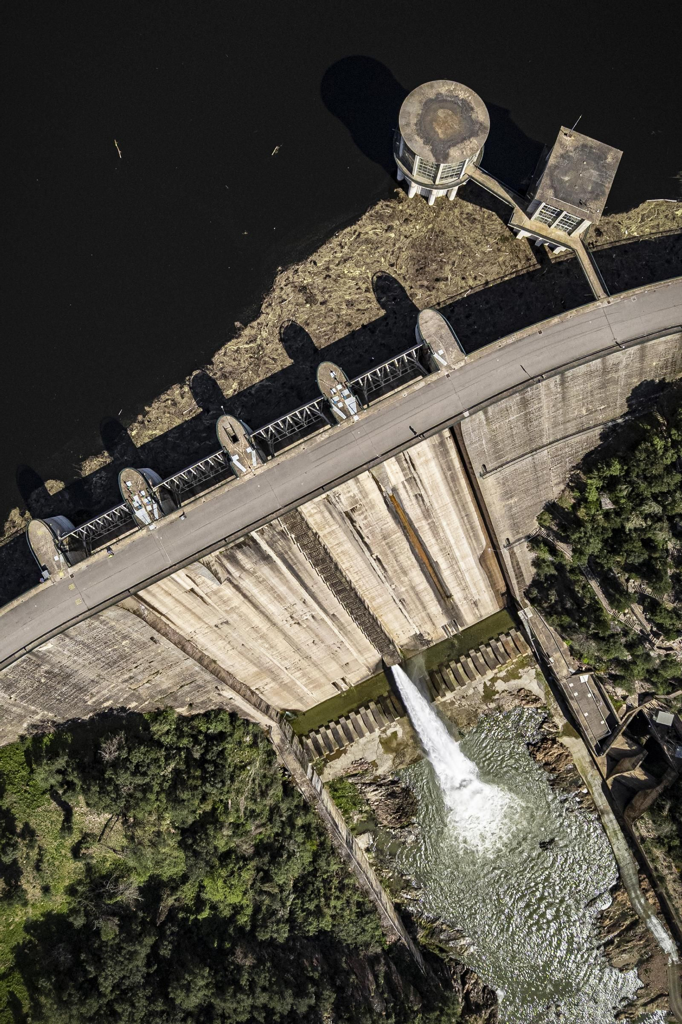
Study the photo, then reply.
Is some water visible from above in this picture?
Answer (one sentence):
Yes, some water is visible.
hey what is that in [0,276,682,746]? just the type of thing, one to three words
dam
